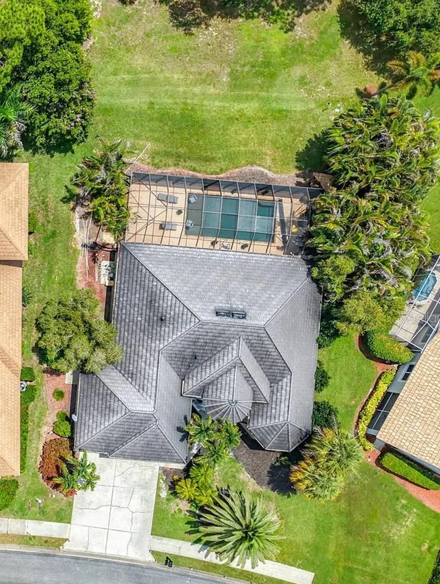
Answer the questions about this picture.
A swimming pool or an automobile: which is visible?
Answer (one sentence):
Visible in the photo is a swimming pool.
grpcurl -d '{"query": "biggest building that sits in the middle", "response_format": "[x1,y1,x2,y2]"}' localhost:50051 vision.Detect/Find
[72,241,323,464]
